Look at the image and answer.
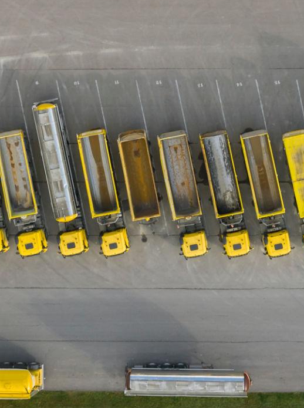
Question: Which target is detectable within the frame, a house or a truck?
truck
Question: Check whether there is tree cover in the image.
No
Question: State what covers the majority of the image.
paved ground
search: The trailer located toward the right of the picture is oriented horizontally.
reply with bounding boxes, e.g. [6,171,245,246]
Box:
[124,359,254,395]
